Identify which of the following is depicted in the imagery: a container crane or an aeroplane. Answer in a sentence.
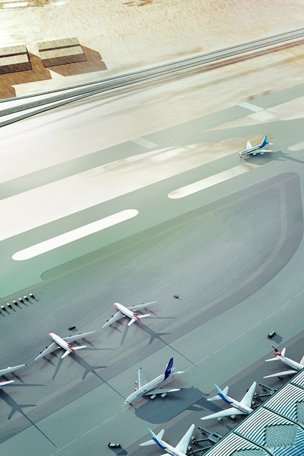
Of the two, only an aeroplane appears.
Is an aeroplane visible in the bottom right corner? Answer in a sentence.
Yes, an aeroplane shows up in the bottom right corner.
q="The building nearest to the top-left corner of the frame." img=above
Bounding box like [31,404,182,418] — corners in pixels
[0,45,34,78]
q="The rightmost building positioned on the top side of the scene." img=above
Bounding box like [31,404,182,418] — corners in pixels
[36,37,87,70]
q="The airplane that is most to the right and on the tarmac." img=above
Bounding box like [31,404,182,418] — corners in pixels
[264,347,304,379]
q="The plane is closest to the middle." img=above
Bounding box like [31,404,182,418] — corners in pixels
[105,303,158,329]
